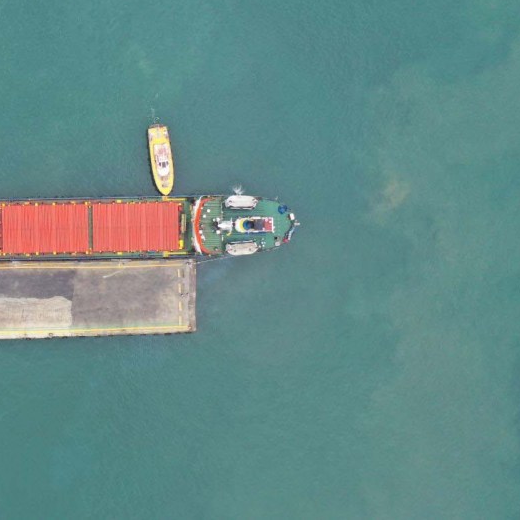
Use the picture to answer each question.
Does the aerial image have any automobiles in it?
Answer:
No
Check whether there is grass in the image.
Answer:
No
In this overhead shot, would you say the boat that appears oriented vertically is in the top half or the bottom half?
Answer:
top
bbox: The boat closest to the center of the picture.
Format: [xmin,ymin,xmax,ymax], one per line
[226,241,258,254]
